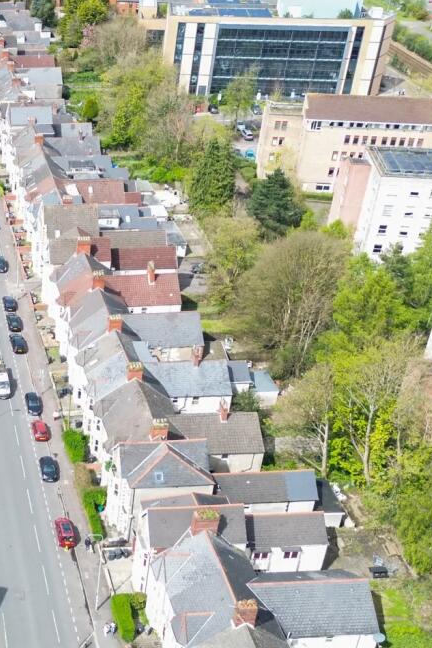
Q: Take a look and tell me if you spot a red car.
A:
Yes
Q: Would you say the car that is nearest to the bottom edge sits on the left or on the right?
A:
left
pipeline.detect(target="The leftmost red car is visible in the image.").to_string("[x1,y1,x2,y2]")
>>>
[31,422,49,445]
